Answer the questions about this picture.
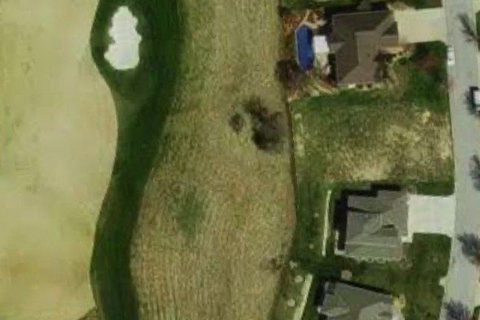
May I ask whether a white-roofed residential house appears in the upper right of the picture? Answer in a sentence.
No, there is no white-roofed residential house in the upper right of the picture.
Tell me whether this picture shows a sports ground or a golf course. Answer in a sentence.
The area seen from above is a golf course.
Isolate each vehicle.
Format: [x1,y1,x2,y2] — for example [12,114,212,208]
[446,46,455,66]
[473,90,480,113]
